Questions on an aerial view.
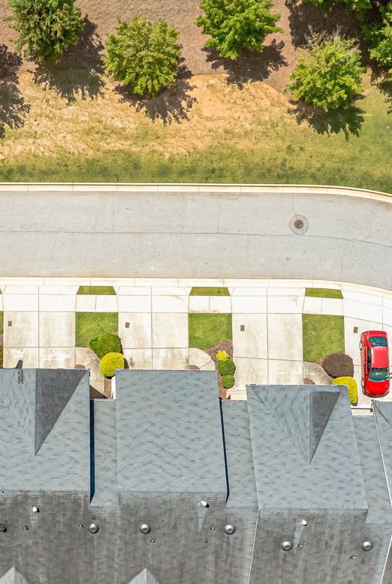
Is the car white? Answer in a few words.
No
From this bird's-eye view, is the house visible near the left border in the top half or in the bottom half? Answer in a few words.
bottom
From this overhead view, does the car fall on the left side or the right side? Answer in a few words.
right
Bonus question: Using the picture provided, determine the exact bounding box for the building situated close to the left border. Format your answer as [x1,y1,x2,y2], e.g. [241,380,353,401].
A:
[0,368,120,584]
